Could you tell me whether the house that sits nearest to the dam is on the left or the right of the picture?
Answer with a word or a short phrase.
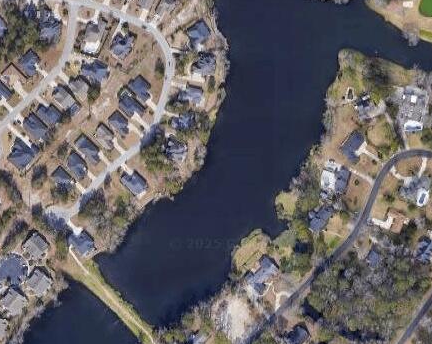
left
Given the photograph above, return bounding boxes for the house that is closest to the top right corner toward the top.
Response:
[403,88,427,114]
